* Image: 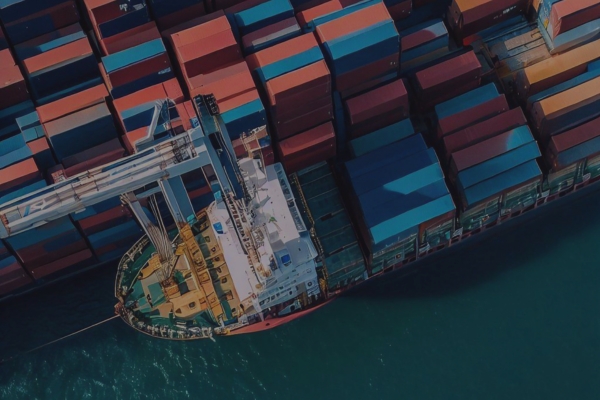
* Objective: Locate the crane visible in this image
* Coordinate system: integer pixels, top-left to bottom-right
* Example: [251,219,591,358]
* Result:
[0,94,255,286]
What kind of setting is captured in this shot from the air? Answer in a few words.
port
